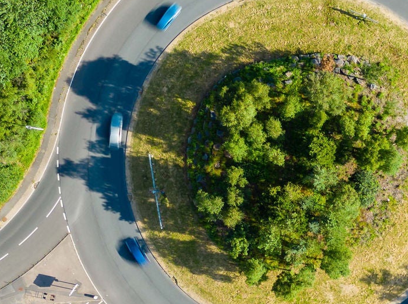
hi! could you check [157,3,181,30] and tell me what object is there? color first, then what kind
blue car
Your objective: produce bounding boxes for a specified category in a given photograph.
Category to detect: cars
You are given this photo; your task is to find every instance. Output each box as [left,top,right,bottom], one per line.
[126,238,149,264]
[157,3,181,30]
[108,115,122,146]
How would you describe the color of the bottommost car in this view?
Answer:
blue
